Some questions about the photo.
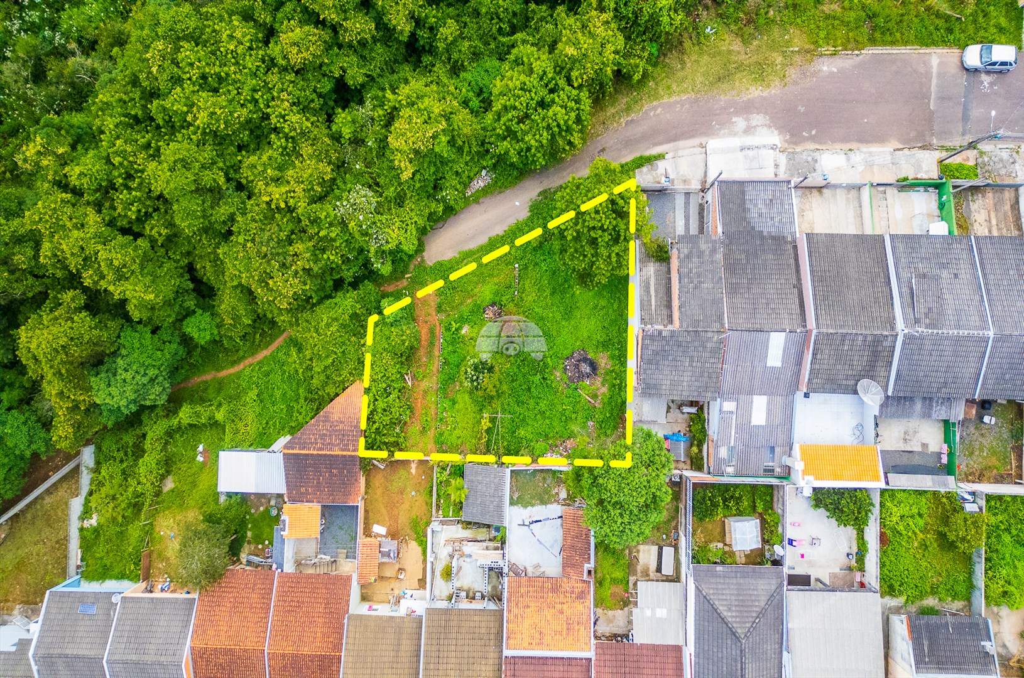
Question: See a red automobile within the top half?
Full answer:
No, there's no red automobile to be seen within the top half.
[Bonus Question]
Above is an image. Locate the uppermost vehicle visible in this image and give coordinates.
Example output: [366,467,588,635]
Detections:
[959,42,1020,71]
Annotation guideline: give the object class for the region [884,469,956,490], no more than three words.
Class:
shed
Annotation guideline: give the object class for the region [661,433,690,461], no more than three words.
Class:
shed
